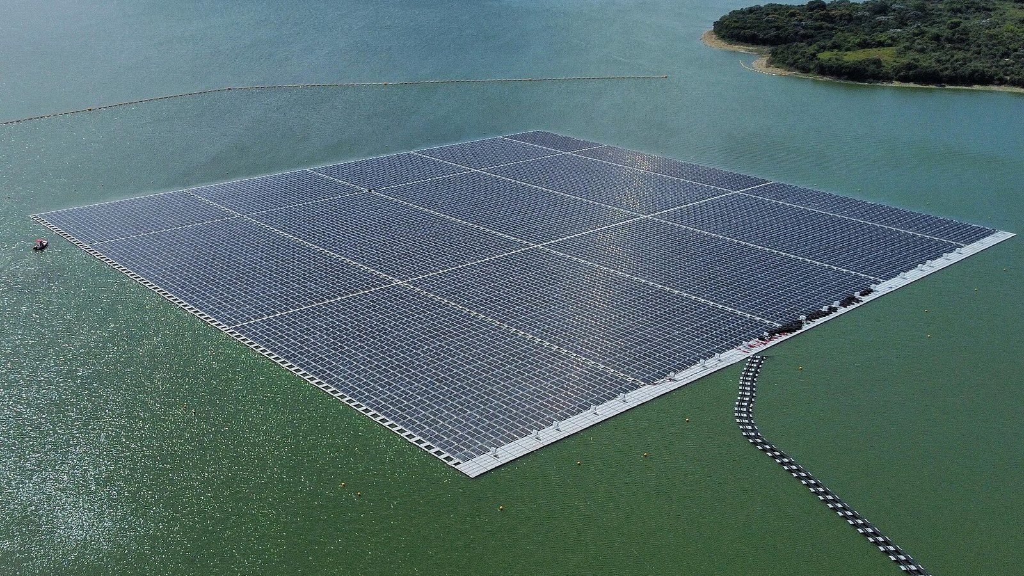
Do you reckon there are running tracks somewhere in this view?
No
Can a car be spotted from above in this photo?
No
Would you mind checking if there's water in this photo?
Yes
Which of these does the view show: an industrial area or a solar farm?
solar farm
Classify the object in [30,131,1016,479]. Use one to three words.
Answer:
solar array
